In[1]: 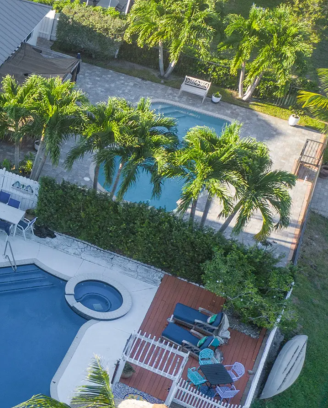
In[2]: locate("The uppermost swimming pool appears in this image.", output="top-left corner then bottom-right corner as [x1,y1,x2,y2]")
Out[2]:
[93,96,245,215]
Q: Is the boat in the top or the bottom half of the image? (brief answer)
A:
bottom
